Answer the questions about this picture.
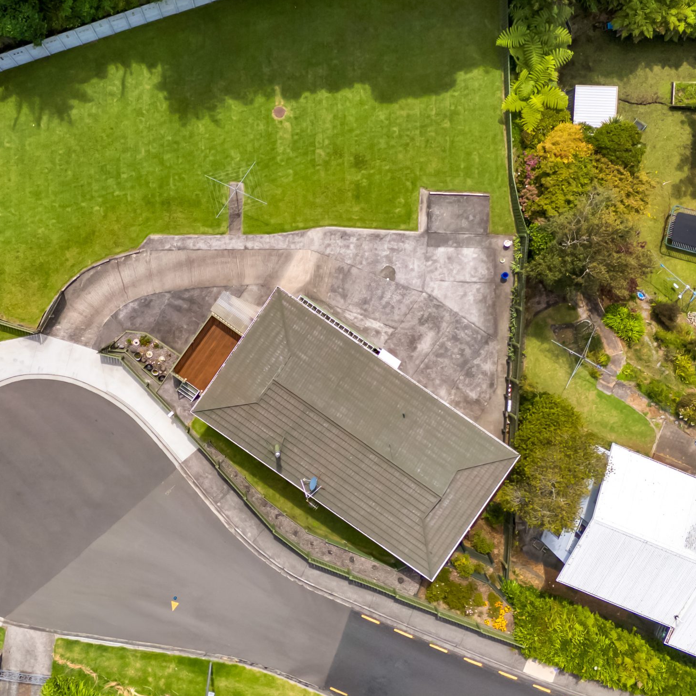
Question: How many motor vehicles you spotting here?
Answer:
zero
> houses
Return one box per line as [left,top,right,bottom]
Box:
[547,442,696,659]
[191,286,522,583]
